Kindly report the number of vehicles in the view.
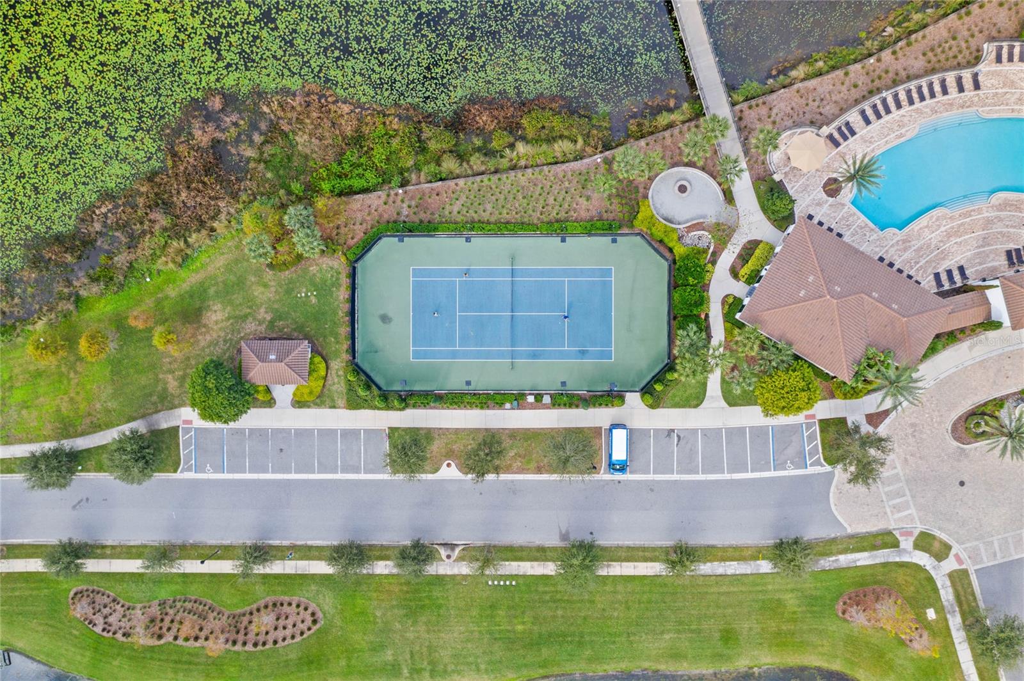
one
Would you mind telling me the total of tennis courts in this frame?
1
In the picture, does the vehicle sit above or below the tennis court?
below it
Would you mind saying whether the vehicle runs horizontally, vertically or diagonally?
vertically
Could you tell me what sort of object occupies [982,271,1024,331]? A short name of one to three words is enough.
building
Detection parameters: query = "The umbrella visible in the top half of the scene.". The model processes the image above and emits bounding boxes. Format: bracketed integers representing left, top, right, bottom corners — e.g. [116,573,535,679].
[793,129,833,169]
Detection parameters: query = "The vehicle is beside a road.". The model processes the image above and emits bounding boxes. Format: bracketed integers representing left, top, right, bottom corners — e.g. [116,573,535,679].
[607,424,629,475]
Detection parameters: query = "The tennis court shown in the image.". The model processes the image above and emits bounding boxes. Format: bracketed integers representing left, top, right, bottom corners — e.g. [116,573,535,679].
[356,235,667,390]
